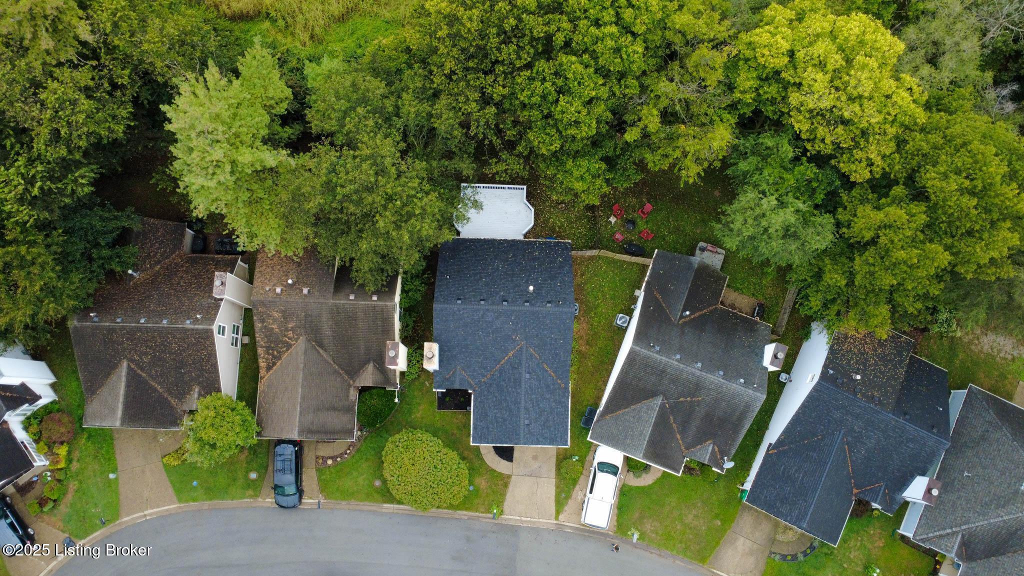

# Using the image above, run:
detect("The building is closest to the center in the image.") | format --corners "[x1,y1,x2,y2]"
[425,235,577,448]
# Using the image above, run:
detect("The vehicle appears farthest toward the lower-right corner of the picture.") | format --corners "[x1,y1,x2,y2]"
[583,444,625,532]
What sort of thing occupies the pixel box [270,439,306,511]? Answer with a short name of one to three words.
car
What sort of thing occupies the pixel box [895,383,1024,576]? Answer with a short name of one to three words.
house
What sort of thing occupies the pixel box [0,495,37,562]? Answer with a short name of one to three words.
vehicle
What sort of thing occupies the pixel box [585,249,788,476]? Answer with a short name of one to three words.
house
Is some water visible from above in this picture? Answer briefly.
No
